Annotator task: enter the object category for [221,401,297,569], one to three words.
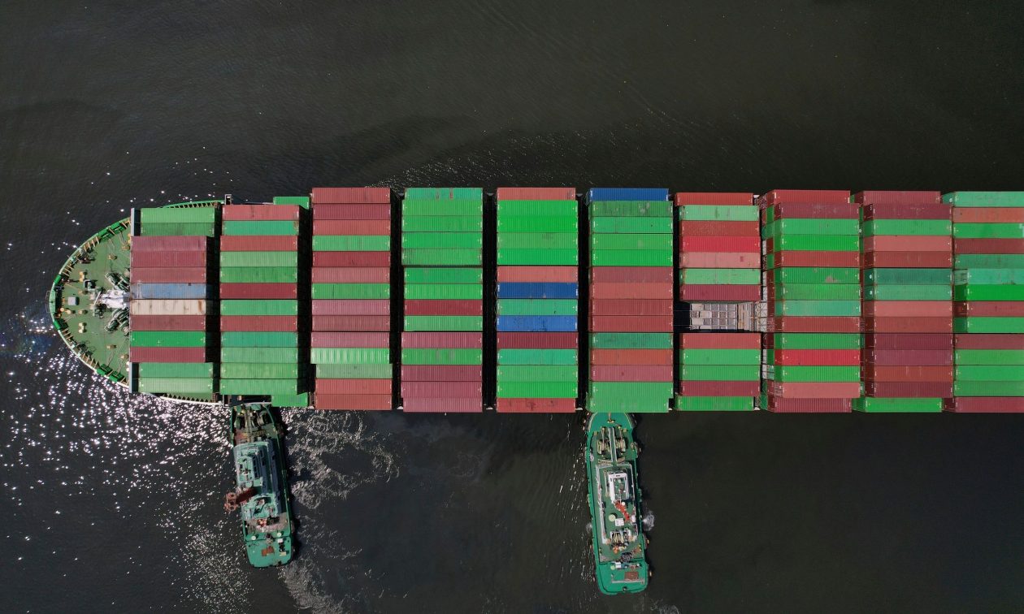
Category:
boat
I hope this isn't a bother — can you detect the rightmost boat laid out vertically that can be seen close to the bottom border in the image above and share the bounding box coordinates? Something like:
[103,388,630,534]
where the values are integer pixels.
[582,408,648,595]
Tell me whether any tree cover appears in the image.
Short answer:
No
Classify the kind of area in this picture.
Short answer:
port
